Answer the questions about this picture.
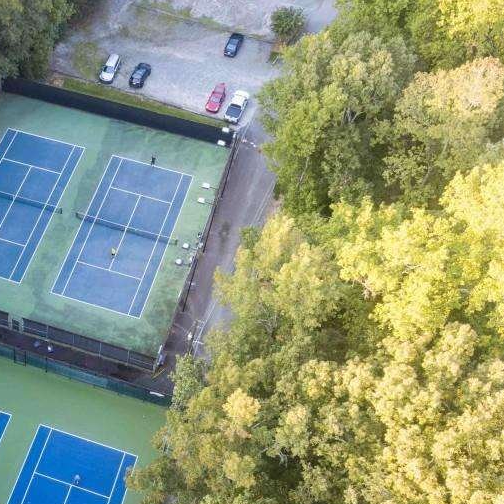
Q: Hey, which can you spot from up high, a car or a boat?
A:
car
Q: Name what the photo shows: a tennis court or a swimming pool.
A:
tennis court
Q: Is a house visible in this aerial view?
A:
No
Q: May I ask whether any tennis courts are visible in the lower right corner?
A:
No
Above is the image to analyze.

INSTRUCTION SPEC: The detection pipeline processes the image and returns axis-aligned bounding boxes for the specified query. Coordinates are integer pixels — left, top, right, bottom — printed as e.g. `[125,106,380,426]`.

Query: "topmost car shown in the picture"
[222,27,246,56]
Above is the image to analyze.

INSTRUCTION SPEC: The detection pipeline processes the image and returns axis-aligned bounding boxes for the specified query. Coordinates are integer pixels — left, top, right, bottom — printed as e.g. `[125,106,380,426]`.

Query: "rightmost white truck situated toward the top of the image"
[224,88,249,120]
